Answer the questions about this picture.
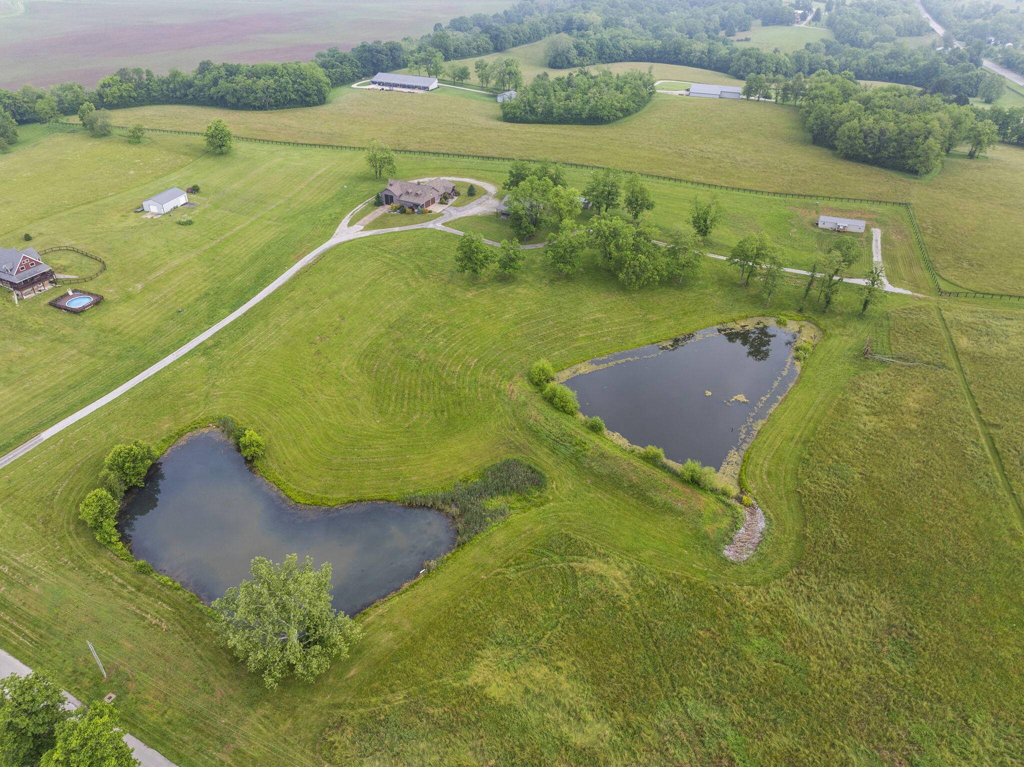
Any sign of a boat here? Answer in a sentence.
No, there isn't any boat down there.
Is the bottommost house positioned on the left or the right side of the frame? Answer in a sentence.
It is on the left.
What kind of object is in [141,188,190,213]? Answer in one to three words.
building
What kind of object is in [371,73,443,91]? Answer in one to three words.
barn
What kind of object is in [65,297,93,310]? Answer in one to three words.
swimming pool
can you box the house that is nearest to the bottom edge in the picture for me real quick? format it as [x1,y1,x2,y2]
[0,246,61,303]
